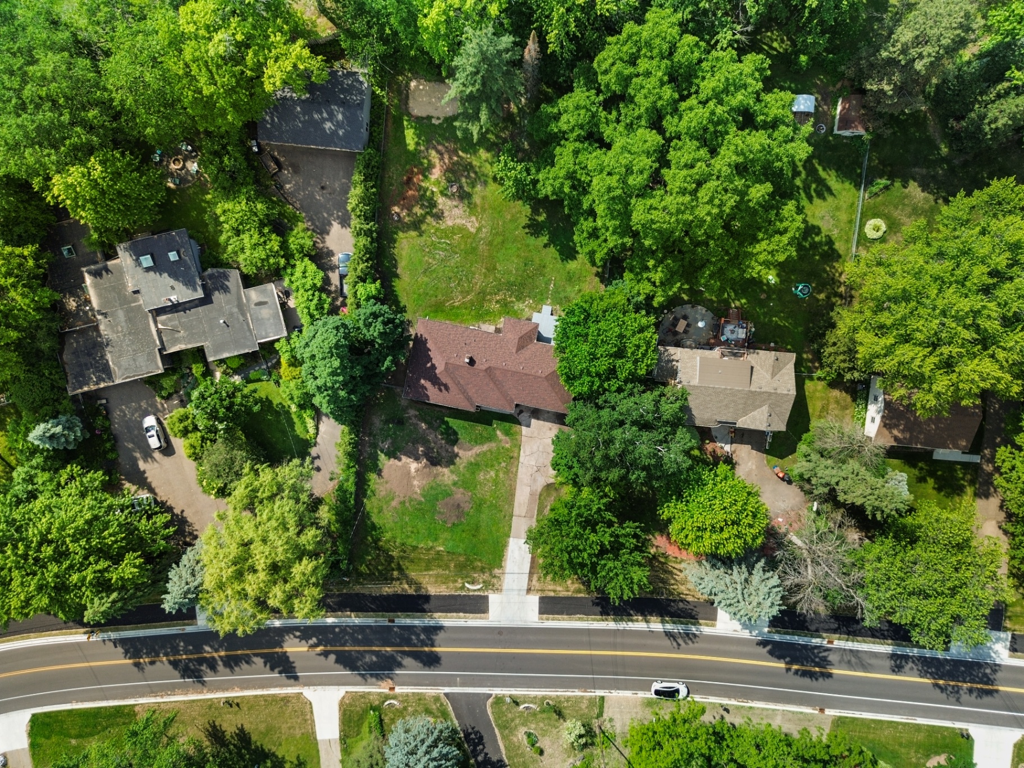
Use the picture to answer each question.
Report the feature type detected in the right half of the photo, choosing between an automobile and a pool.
automobile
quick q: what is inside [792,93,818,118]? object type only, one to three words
shed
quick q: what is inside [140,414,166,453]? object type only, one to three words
car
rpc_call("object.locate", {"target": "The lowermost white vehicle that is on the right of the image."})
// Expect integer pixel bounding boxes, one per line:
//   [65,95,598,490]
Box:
[651,680,687,700]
